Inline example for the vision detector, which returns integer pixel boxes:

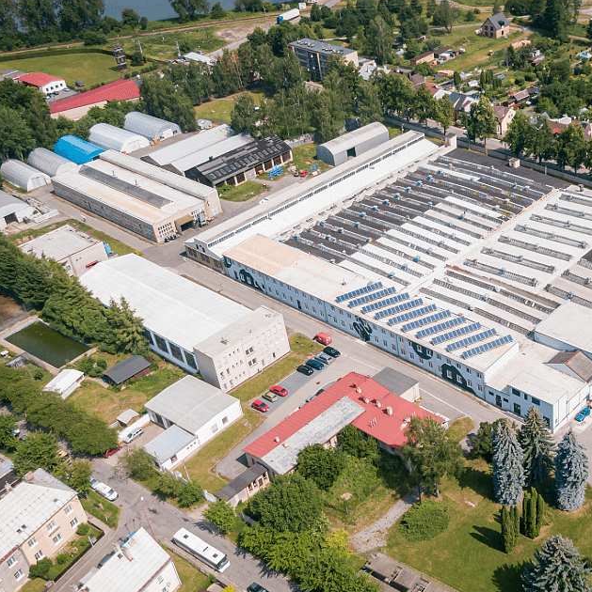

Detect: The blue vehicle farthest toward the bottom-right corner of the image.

[572,406,592,423]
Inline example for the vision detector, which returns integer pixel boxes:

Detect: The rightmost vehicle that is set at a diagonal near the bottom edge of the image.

[168,524,234,577]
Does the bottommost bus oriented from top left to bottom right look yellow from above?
No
